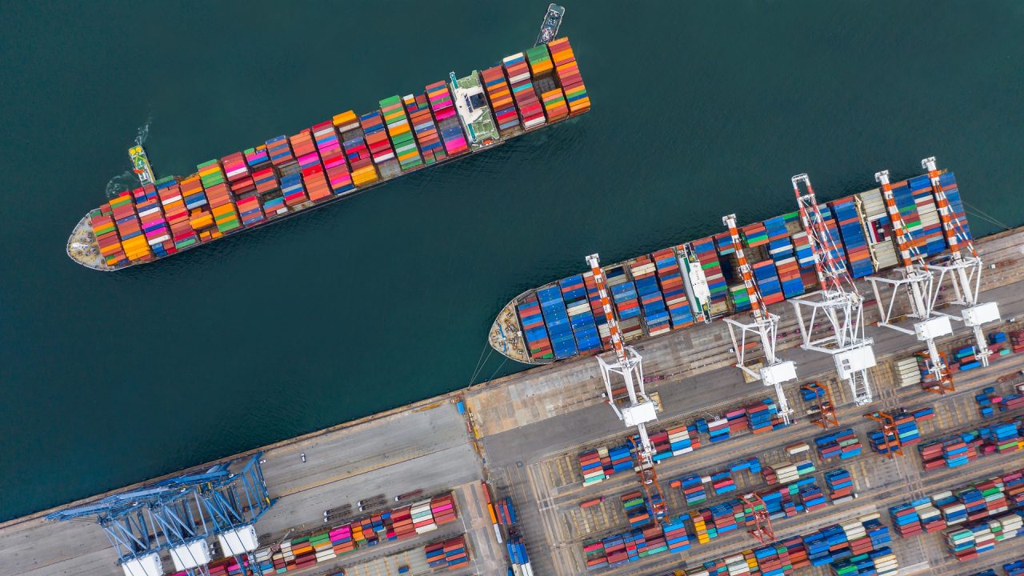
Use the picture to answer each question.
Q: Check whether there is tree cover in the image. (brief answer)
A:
No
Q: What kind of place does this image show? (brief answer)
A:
port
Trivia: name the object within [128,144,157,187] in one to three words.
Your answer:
boat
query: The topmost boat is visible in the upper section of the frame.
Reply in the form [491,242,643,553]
[537,2,566,47]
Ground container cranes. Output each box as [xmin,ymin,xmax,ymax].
[857,170,954,383]
[90,464,233,576]
[912,349,958,397]
[799,380,841,431]
[737,490,776,546]
[782,172,879,411]
[901,155,1002,369]
[862,410,907,463]
[148,451,282,576]
[586,254,662,467]
[637,477,671,528]
[717,214,799,427]
[33,486,188,576]
[624,434,659,485]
